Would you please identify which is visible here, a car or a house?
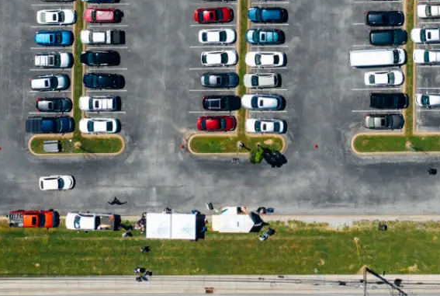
car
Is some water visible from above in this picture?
No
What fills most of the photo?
paved ground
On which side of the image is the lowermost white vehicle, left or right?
left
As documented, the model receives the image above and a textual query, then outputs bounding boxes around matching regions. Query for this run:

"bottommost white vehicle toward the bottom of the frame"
[67,213,121,233]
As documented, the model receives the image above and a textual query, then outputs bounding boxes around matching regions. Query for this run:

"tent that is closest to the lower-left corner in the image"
[146,209,173,240]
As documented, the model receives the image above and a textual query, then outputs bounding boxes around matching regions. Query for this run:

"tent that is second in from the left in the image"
[172,209,198,240]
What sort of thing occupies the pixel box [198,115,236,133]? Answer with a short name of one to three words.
car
